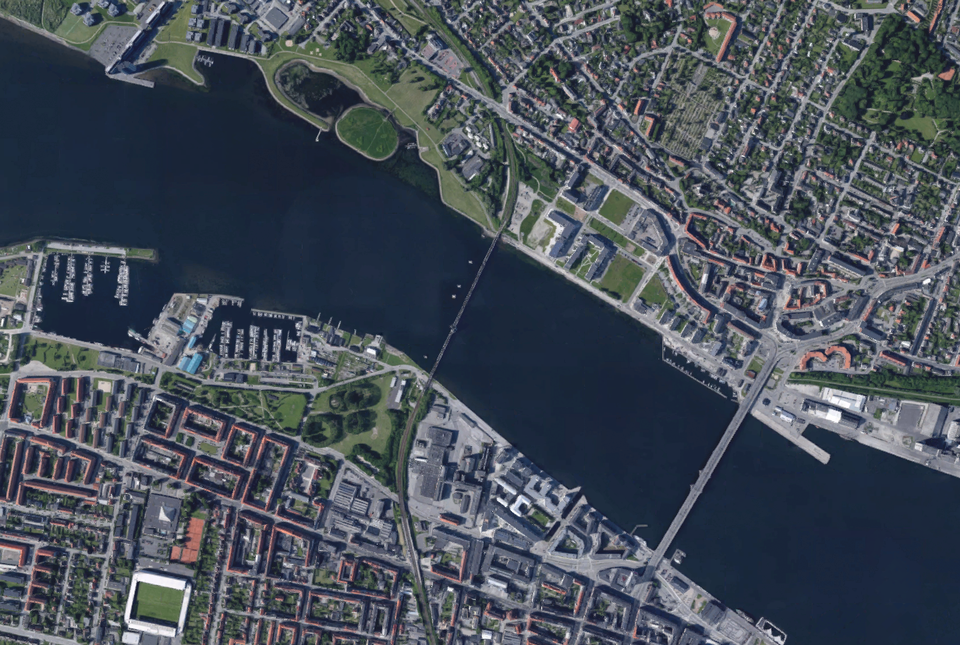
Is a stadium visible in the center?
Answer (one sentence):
No, no stadium appears in the center.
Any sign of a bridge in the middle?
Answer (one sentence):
Yes, a bridge appears in the middle.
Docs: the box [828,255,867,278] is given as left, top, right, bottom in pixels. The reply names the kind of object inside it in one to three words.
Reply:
building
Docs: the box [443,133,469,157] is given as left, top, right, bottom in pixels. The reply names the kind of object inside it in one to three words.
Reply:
house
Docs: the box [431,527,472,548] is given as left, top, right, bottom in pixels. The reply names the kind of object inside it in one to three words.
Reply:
building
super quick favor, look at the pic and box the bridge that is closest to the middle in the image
[427,232,501,391]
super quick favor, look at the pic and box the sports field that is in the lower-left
[133,583,183,622]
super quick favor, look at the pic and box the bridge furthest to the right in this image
[636,339,792,592]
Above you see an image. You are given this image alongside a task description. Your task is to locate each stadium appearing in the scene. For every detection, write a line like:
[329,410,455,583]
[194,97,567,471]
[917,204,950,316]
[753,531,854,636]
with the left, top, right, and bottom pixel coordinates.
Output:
[123,571,192,638]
